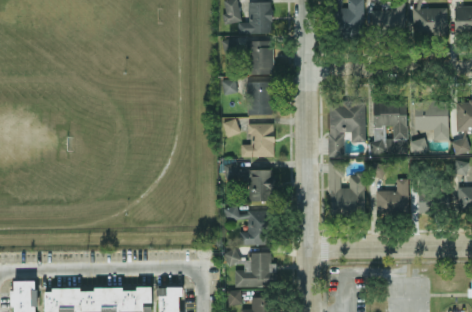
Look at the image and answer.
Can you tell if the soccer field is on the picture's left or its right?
left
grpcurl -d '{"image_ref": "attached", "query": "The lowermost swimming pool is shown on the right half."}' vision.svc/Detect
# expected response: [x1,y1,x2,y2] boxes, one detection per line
[346,162,364,176]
